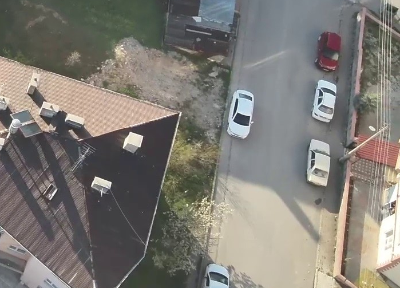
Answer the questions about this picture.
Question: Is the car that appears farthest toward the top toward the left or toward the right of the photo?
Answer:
right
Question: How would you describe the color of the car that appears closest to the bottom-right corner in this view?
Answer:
white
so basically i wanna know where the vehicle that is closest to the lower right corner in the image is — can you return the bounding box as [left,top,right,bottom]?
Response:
[302,138,335,190]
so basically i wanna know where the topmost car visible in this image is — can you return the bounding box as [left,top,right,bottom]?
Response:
[314,30,343,72]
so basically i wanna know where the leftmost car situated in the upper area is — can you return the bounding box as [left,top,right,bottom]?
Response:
[226,89,255,140]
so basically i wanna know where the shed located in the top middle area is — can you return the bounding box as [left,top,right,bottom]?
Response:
[160,0,235,59]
